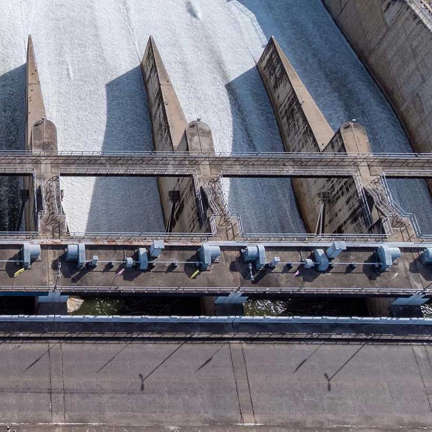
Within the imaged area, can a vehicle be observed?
No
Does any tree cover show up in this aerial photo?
No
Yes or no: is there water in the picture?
Yes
